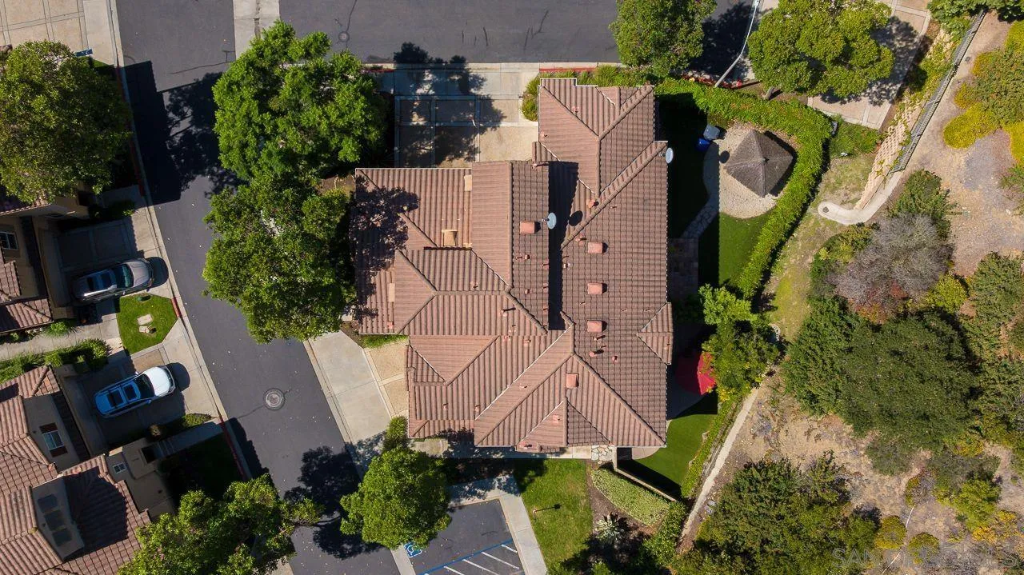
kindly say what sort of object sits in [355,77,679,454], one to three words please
house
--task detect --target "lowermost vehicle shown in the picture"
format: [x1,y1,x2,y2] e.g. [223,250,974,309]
[84,366,174,421]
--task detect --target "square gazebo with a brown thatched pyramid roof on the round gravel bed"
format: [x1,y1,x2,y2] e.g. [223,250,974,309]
[723,128,795,198]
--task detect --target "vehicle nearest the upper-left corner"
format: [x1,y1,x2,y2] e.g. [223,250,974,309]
[62,256,153,304]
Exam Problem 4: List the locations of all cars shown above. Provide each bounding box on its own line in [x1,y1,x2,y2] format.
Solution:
[84,366,174,421]
[62,256,153,304]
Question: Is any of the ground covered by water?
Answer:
No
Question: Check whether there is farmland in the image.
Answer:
No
